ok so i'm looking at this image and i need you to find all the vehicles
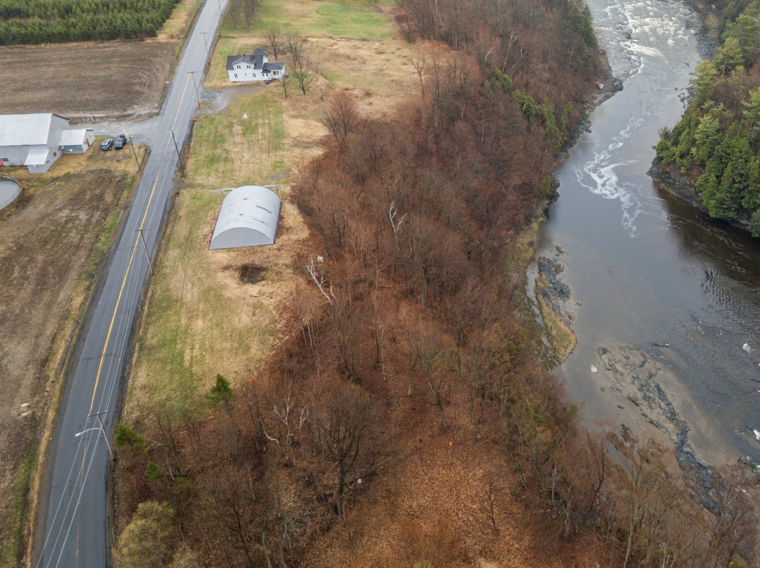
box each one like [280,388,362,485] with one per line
[96,140,114,151]
[109,134,132,148]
